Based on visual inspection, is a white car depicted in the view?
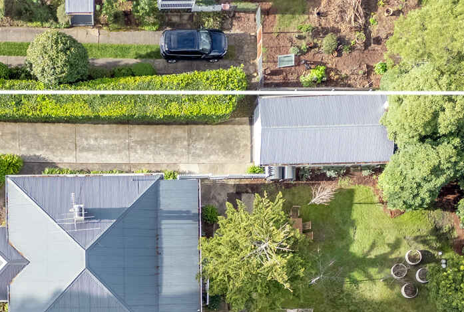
No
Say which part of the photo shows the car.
top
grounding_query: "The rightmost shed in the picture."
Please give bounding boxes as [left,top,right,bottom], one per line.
[253,95,397,167]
